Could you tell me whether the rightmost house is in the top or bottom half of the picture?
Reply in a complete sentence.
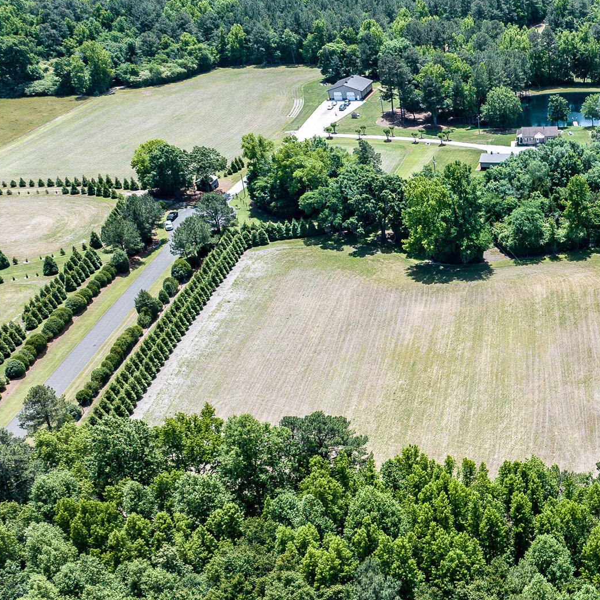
The rightmost house is in the top half of the image.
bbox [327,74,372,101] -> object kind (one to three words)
building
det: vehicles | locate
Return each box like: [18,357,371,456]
[344,98,350,105]
[338,102,346,109]
[331,98,338,105]
[164,220,173,231]
[164,211,179,221]
[326,103,334,109]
